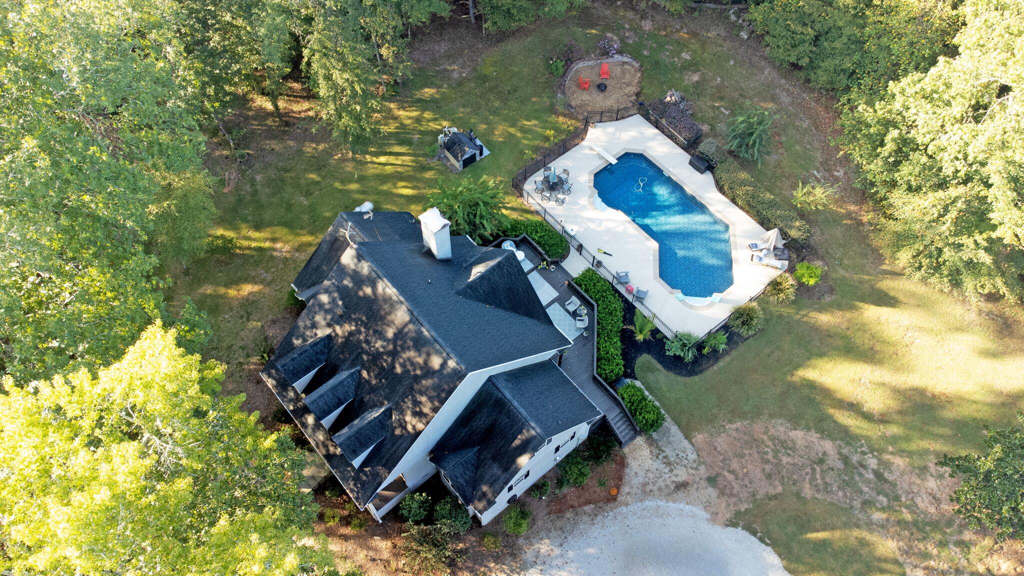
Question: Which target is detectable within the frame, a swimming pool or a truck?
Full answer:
I can see a swimming pool in this picture.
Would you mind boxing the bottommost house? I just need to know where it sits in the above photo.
[260,208,606,528]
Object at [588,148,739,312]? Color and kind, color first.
blue swimming pool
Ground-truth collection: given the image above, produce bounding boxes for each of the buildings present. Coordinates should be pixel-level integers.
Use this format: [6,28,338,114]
[260,208,606,528]
[441,130,481,170]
